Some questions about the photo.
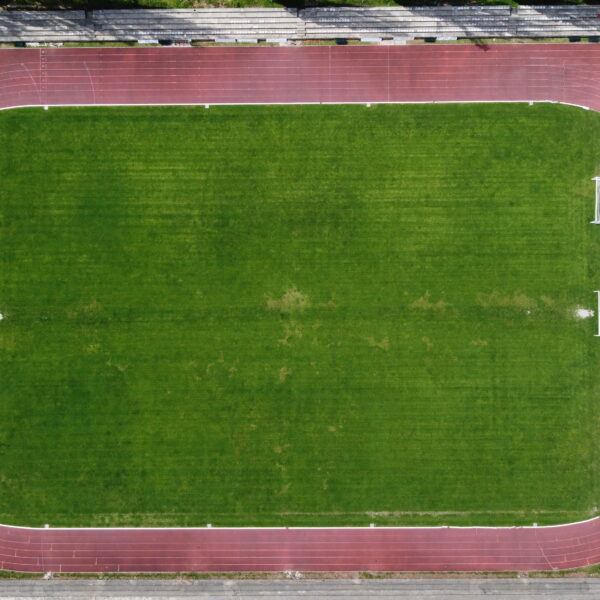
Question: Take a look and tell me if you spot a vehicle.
No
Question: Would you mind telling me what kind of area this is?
sports ground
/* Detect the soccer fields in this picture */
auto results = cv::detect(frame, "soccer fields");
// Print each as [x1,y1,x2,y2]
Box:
[0,102,600,529]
